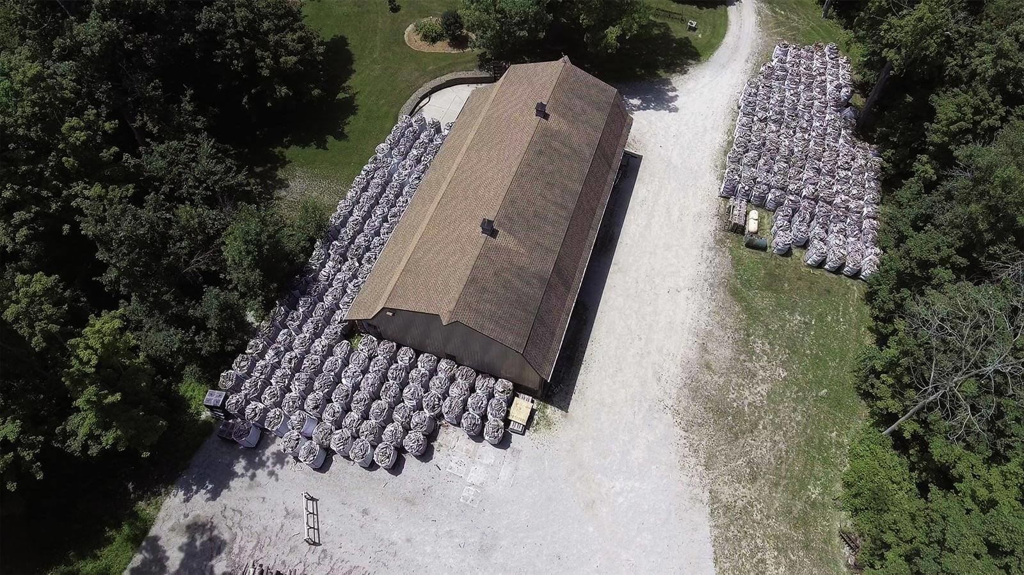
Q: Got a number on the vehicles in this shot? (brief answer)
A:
0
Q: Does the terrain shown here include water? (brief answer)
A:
No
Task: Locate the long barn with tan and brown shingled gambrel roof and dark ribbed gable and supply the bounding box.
[343,47,634,393]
